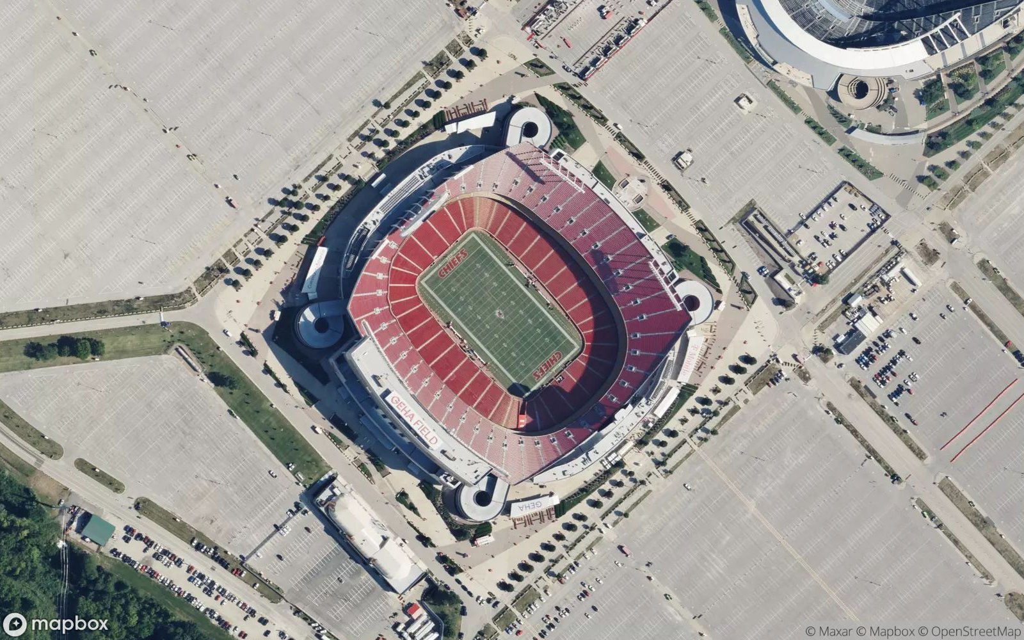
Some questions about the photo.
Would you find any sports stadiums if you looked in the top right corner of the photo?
Yes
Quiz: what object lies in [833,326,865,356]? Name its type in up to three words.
building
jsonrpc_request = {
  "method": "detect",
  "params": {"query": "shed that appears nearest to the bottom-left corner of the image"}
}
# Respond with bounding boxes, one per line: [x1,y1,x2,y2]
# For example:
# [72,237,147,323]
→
[78,513,114,549]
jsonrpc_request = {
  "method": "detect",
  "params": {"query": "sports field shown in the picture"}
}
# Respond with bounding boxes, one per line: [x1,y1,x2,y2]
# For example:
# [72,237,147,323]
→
[415,227,584,397]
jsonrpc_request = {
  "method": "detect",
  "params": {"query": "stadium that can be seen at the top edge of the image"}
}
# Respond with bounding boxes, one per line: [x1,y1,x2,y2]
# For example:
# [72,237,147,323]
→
[728,0,1024,91]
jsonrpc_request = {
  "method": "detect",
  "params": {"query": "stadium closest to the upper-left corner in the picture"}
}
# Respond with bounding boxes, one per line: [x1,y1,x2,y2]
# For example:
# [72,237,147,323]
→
[317,140,692,490]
